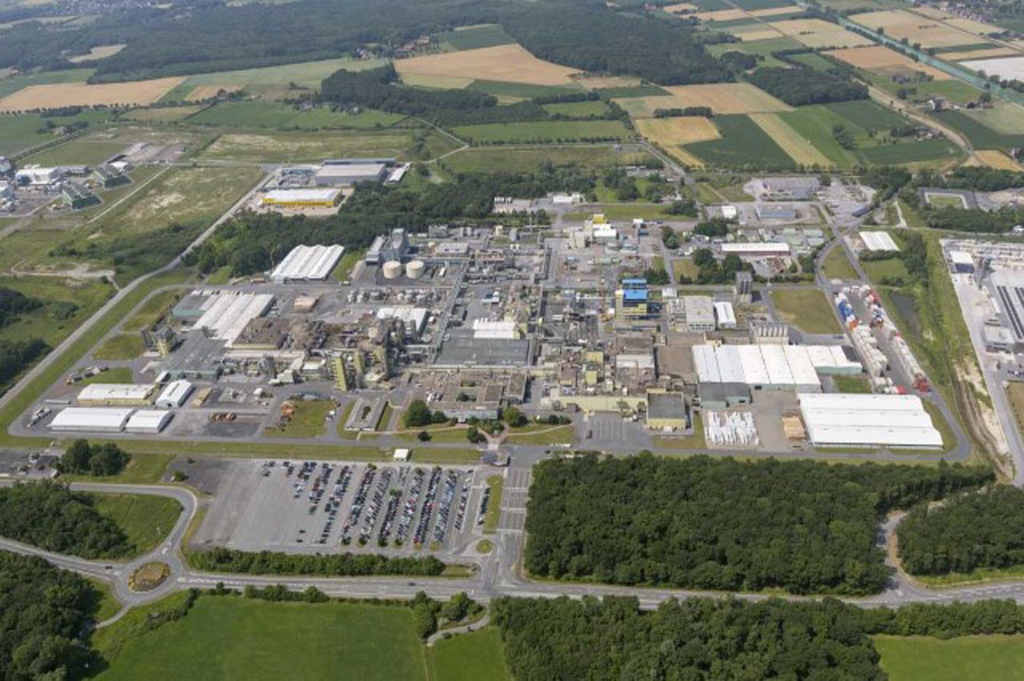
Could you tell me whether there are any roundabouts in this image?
Yes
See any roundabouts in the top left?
No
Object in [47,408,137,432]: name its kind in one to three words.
building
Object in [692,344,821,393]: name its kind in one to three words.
building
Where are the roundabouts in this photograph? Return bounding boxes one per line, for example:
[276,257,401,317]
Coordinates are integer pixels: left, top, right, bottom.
[115,552,182,602]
